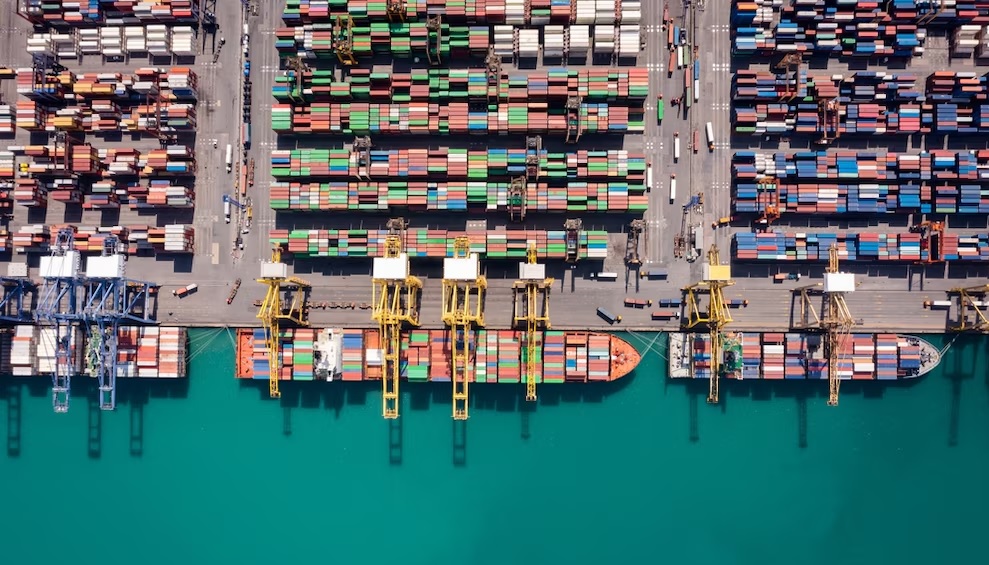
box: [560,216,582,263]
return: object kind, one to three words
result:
container crane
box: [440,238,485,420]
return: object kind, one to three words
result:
container crane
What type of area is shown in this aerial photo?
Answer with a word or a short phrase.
port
